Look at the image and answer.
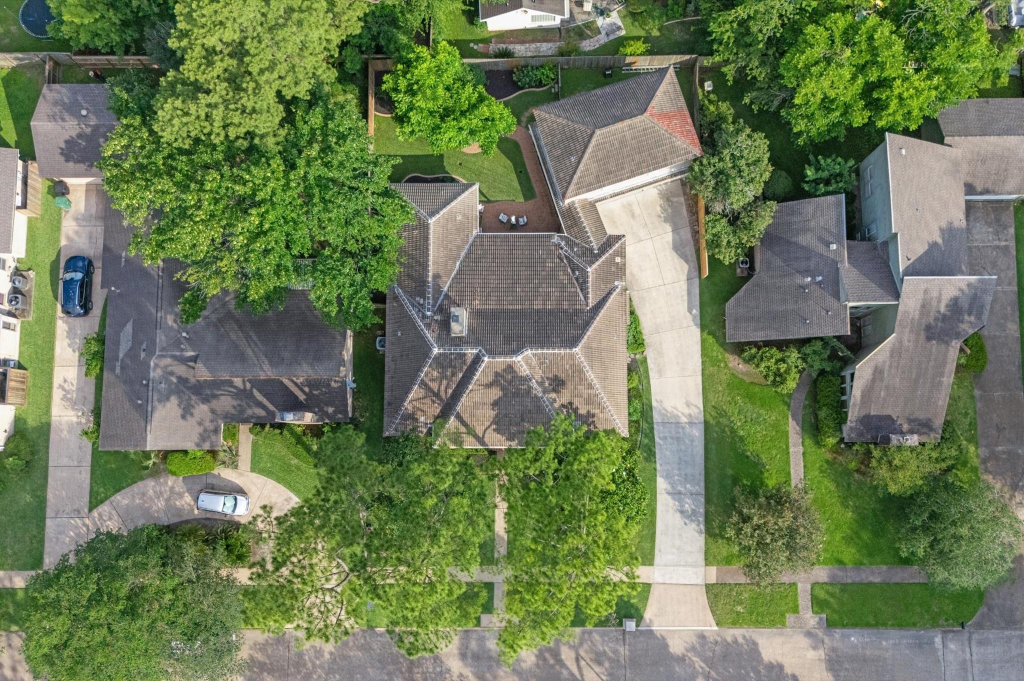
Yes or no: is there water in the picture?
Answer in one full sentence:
No, no water is visible.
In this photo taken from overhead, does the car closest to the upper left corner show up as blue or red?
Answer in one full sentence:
The color of the car closest to the upper left corner is blue.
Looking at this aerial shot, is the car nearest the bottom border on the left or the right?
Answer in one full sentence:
The car nearest the bottom border is on the left side of the image.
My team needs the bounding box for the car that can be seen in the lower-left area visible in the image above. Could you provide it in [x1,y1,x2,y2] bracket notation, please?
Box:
[193,487,249,518]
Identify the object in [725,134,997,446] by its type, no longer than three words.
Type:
house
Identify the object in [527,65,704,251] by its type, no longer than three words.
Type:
building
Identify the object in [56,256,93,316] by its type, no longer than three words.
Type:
car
